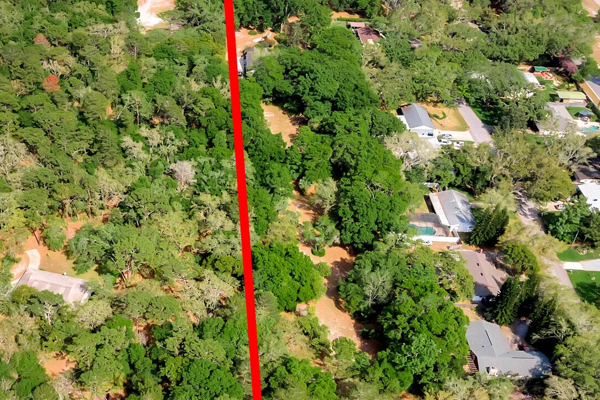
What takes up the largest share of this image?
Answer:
trees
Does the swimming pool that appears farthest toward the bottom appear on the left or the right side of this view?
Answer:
right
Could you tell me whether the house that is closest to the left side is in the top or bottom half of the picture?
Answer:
bottom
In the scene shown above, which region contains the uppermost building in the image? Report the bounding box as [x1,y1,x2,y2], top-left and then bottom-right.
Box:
[349,22,380,50]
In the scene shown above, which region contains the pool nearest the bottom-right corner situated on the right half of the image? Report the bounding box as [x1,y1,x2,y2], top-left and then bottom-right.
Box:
[407,213,454,237]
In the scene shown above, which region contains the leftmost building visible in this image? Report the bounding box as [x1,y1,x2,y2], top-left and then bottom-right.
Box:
[16,268,87,311]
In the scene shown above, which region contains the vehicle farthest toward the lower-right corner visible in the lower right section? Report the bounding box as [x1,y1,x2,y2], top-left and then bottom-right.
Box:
[511,338,537,353]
